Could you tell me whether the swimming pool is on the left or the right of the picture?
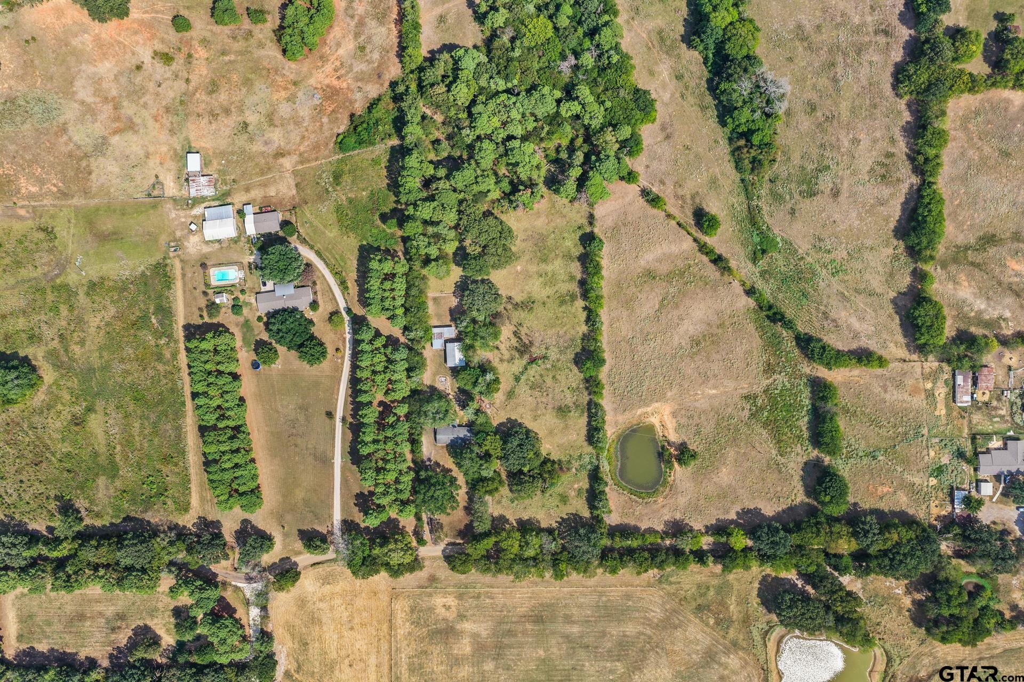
left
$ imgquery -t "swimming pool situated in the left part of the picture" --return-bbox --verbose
[209,265,240,286]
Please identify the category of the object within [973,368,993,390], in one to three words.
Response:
barn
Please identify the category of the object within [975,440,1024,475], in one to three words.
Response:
house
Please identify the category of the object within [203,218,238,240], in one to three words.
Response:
building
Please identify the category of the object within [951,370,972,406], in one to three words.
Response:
shed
